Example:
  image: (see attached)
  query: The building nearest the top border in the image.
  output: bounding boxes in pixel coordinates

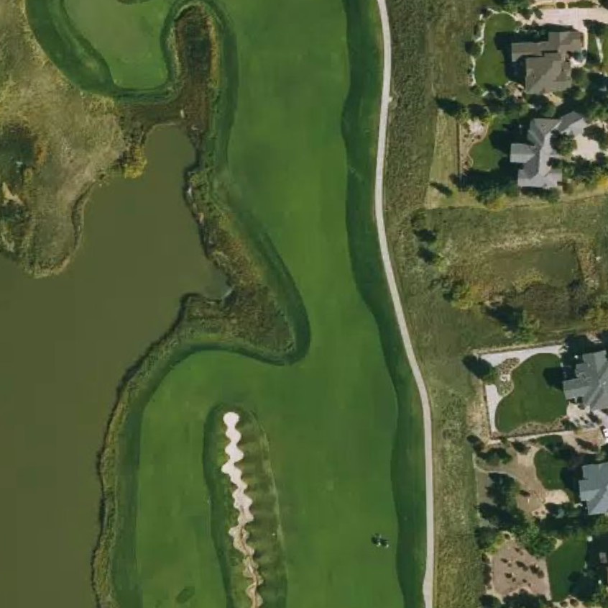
[514,29,586,92]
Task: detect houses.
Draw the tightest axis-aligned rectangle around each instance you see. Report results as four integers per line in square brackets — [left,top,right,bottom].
[512,107,591,185]
[565,352,608,412]
[514,29,586,92]
[581,452,608,517]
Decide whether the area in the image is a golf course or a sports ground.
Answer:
golf course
